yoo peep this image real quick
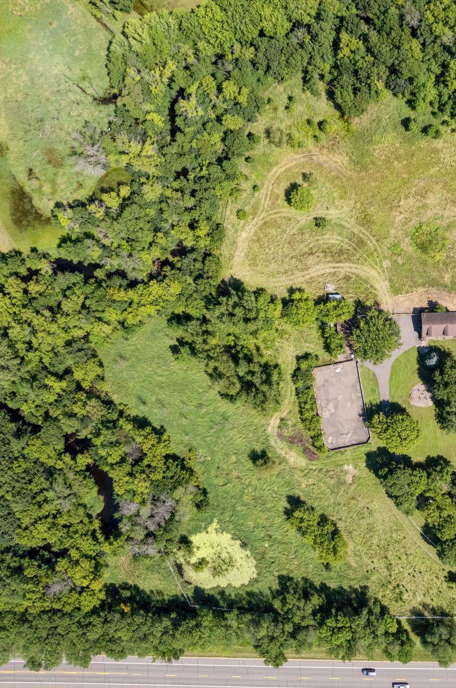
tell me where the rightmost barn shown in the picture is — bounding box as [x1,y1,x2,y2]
[421,312,456,340]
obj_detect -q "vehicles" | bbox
[392,682,410,688]
[362,667,376,676]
